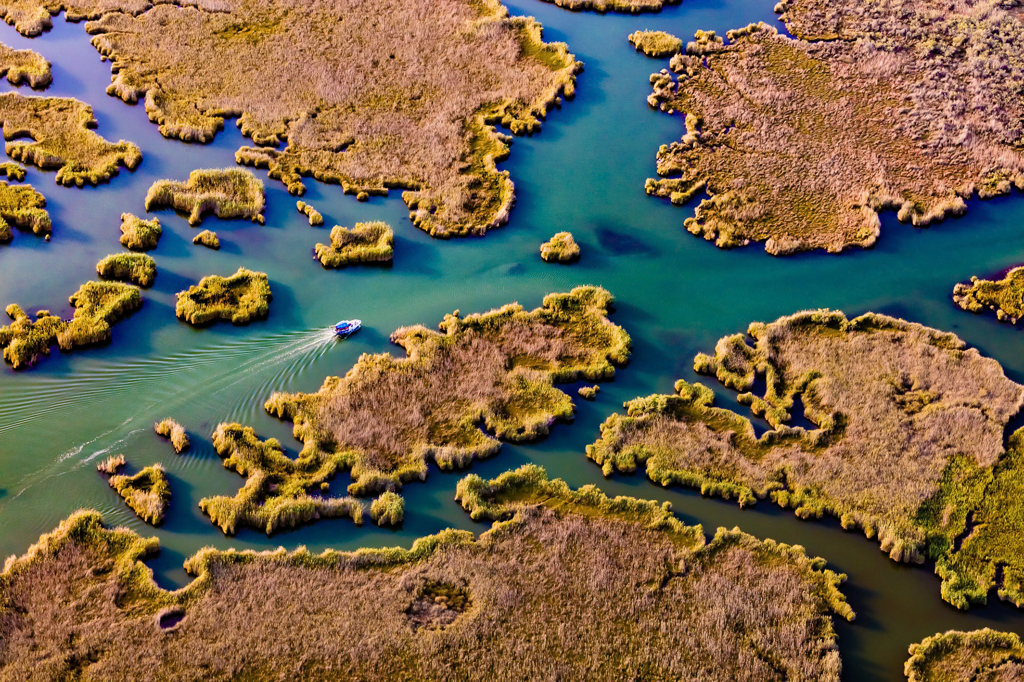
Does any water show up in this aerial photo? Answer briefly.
Yes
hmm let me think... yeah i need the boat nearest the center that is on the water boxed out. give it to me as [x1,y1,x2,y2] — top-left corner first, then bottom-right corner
[329,320,360,340]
